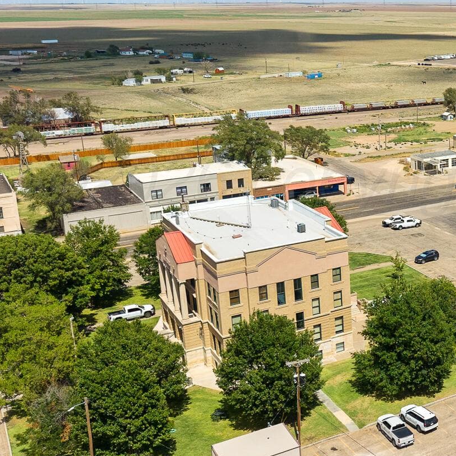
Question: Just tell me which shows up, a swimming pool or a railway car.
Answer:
railway car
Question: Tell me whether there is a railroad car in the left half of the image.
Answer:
Yes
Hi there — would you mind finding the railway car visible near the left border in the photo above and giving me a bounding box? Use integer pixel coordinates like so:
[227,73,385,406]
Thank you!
[1,121,96,141]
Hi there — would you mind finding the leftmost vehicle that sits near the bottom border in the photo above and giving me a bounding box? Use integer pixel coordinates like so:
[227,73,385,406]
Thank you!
[376,415,417,446]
